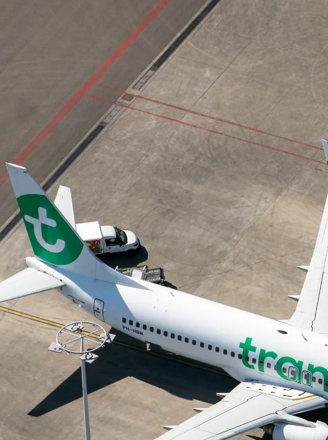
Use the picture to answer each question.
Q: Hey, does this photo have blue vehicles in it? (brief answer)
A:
No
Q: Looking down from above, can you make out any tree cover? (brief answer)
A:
No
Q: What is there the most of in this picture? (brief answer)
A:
paved ground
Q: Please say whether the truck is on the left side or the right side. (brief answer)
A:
left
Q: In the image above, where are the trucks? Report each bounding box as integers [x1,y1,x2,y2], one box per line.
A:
[76,221,143,263]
